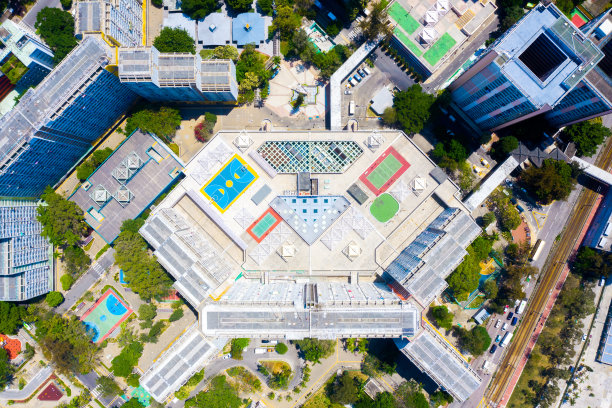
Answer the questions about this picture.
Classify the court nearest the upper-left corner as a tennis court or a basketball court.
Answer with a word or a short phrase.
basketball court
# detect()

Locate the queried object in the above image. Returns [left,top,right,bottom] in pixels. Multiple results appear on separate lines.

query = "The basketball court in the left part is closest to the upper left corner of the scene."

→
[200,154,259,213]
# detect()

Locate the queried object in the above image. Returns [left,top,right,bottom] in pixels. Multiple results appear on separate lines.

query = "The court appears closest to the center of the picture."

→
[247,207,283,243]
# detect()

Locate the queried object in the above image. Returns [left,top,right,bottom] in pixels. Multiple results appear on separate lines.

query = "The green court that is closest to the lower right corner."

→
[371,194,397,222]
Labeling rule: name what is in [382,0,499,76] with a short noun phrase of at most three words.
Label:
building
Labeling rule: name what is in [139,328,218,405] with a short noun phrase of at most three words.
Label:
building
